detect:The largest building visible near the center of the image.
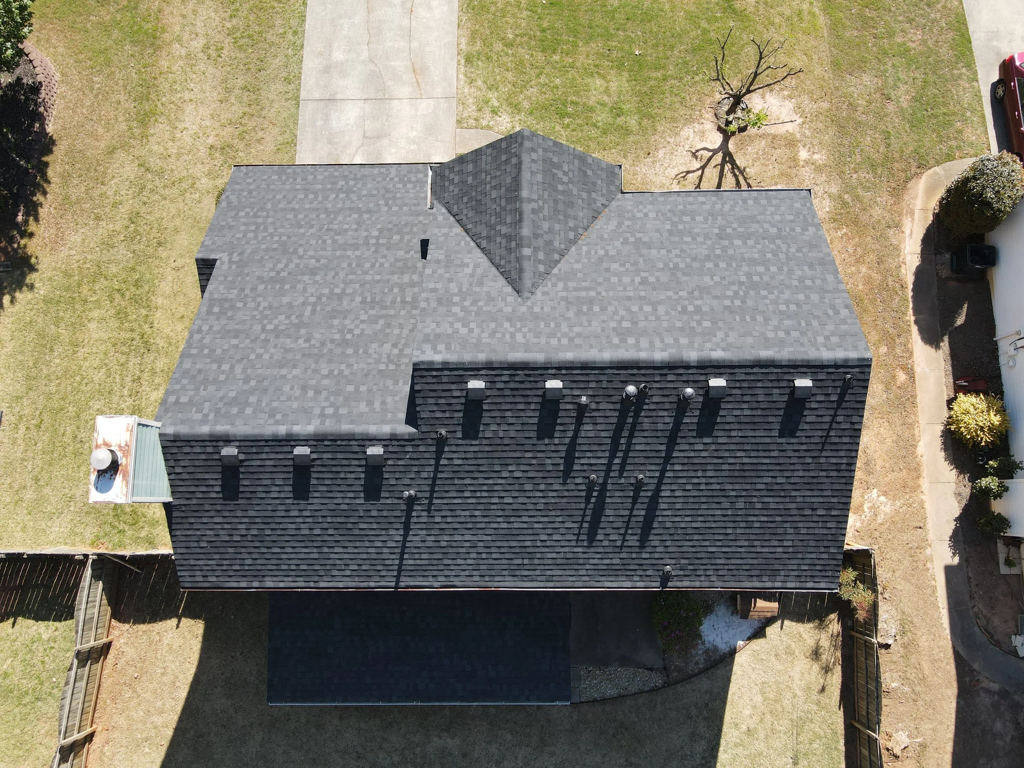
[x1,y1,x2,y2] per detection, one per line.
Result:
[85,128,874,711]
